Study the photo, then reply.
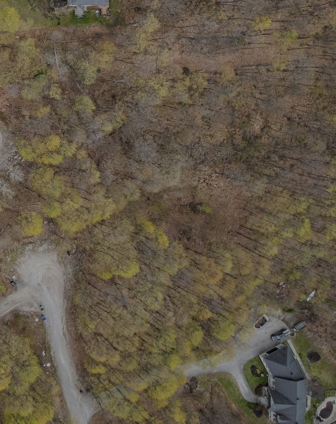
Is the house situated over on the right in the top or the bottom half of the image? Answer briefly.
bottom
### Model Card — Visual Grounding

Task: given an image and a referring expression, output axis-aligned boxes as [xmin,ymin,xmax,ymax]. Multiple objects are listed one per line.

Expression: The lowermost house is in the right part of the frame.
[257,342,311,424]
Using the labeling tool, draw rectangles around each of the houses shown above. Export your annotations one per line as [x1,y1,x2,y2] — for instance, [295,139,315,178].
[257,342,311,424]
[66,0,109,19]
